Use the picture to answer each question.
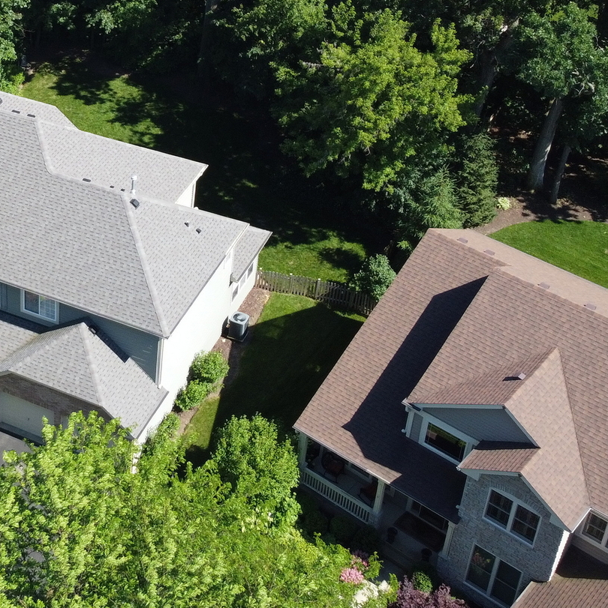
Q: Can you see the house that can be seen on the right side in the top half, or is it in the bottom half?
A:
bottom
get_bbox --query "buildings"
[0,89,276,461]
[292,227,608,608]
